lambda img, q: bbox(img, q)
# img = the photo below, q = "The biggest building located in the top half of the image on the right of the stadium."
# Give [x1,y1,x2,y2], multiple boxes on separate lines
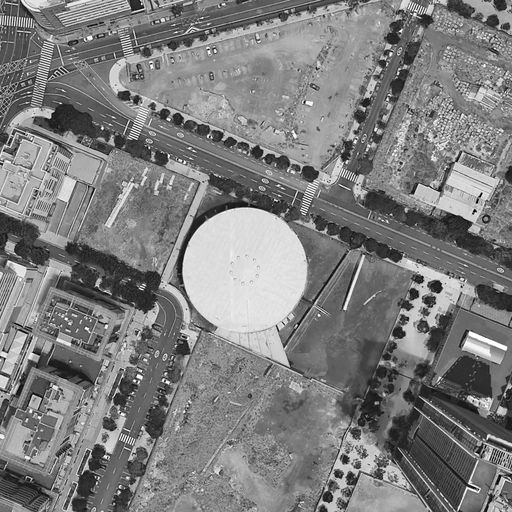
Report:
[434,152,500,226]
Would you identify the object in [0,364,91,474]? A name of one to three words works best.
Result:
building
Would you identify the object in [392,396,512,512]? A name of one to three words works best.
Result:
building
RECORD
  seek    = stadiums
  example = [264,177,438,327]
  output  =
[179,203,312,366]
